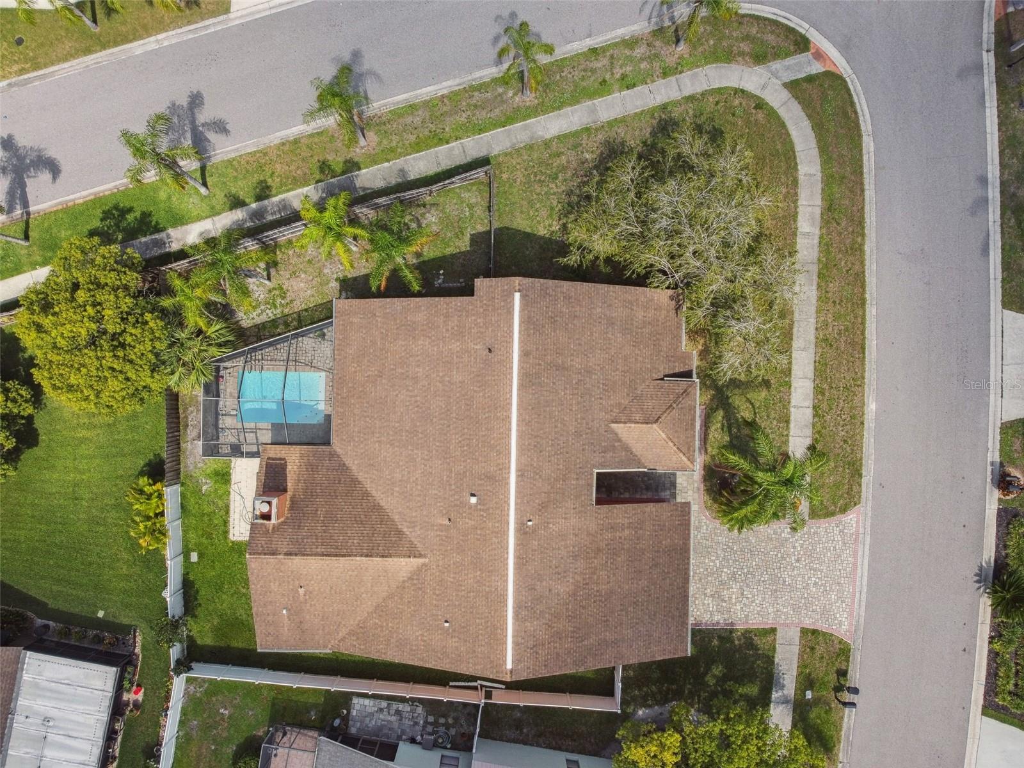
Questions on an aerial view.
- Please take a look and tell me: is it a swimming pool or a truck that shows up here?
swimming pool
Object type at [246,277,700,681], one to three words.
house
